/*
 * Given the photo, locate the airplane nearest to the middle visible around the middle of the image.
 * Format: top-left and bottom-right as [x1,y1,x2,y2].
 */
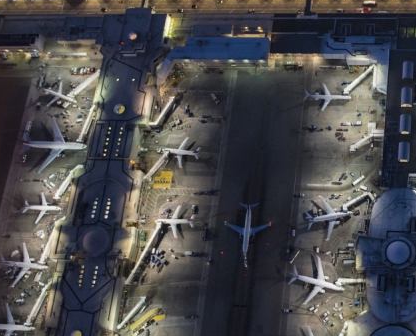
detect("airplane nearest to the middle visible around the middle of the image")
[163,135,199,169]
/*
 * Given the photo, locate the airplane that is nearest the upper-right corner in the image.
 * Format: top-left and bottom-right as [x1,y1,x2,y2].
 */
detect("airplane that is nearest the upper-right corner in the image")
[303,83,351,110]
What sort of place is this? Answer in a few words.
airport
